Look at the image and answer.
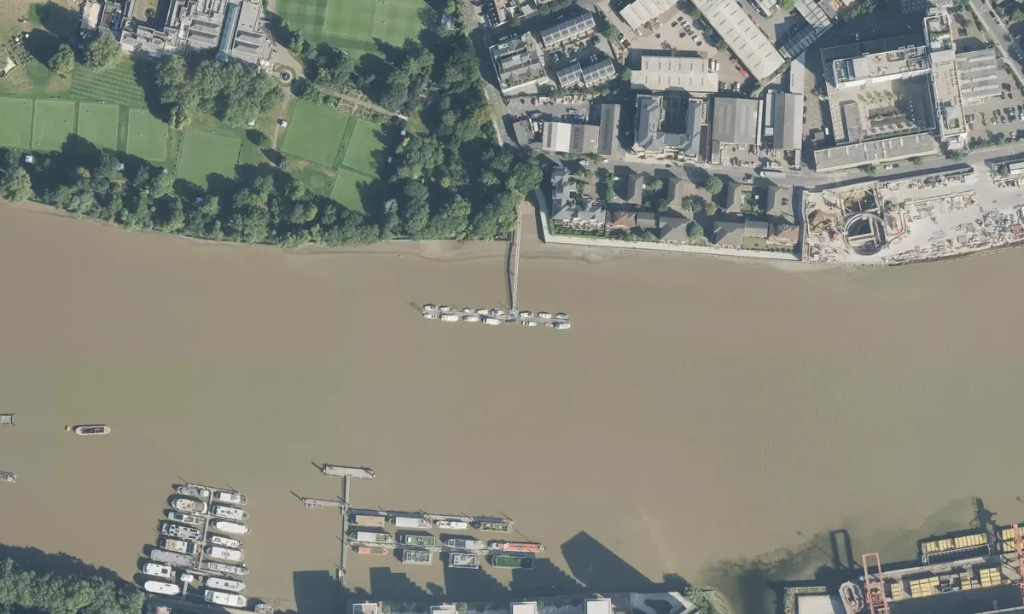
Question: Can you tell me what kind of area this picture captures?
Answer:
port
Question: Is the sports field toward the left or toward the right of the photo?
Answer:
left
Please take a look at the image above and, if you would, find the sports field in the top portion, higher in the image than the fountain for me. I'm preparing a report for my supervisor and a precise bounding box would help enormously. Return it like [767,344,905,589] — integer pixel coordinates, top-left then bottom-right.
[276,0,429,66]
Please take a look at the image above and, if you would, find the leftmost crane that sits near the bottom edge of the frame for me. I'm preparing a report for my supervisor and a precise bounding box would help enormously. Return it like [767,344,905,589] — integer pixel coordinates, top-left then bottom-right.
[859,553,885,614]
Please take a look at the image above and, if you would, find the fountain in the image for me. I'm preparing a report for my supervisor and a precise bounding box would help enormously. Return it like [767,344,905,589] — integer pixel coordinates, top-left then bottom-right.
[276,65,296,86]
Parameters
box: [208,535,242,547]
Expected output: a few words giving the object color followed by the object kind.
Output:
white boat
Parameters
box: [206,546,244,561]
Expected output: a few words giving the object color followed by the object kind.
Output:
white boat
